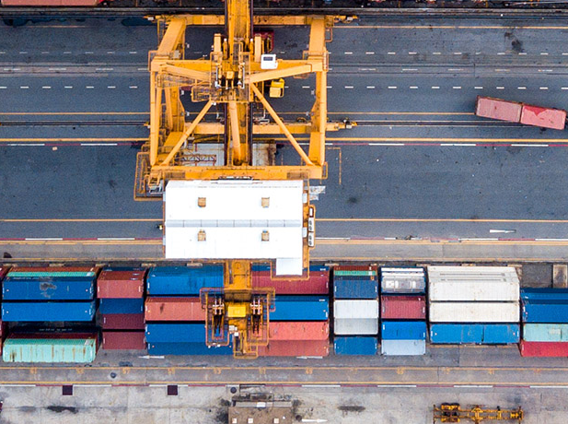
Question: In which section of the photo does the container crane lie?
center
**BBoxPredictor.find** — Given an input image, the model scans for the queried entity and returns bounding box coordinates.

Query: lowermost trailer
[433,403,523,423]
